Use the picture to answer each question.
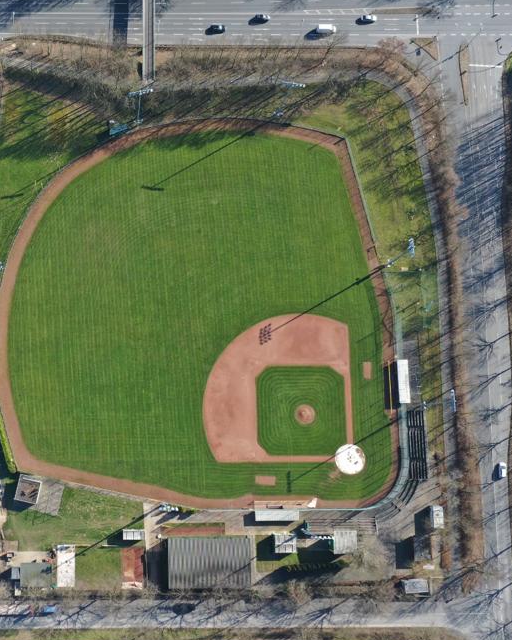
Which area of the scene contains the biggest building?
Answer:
bottom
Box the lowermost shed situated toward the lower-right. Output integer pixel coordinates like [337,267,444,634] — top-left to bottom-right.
[402,579,429,593]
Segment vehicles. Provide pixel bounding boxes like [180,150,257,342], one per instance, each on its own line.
[211,25,224,32]
[40,605,56,613]
[496,462,506,478]
[317,23,335,33]
[254,14,268,21]
[361,14,375,21]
